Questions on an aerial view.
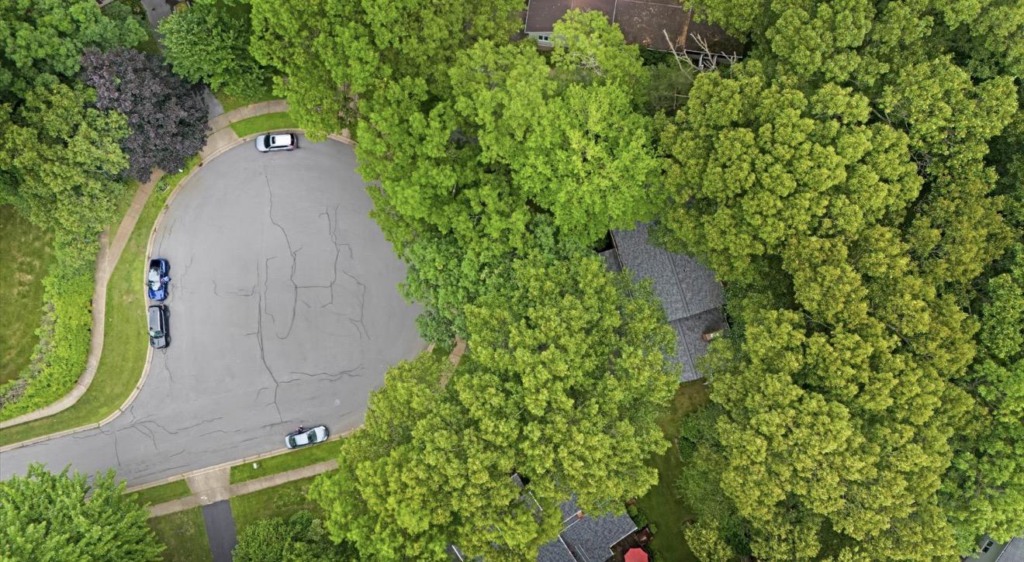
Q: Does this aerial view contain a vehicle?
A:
Yes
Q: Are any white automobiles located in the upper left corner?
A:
Yes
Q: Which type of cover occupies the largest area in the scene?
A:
trees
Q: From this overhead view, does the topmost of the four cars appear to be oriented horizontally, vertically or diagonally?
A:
horizontally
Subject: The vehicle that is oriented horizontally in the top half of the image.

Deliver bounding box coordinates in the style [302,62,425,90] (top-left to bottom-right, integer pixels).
[254,131,296,152]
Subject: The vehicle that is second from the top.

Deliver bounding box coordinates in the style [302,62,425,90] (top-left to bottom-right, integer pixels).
[145,258,168,300]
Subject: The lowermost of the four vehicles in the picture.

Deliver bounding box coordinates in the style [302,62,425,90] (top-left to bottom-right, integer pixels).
[283,426,328,450]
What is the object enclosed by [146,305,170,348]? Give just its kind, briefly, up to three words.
car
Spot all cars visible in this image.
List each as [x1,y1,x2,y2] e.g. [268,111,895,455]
[254,131,296,152]
[283,426,328,450]
[145,258,168,300]
[146,305,170,348]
